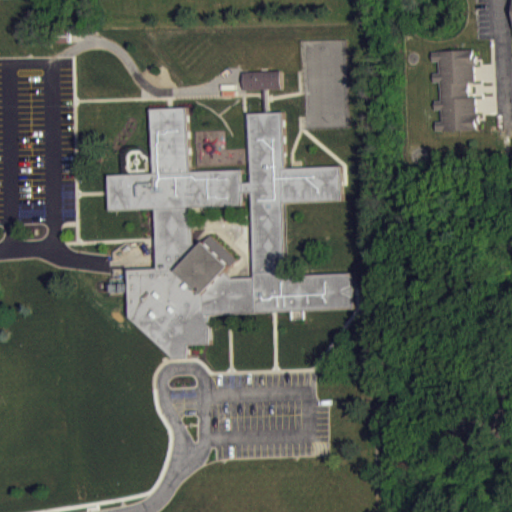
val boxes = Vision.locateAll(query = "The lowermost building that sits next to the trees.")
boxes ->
[106,108,356,359]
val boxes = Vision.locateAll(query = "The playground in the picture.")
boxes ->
[195,130,246,168]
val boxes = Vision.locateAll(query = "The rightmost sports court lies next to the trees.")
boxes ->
[302,40,348,128]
